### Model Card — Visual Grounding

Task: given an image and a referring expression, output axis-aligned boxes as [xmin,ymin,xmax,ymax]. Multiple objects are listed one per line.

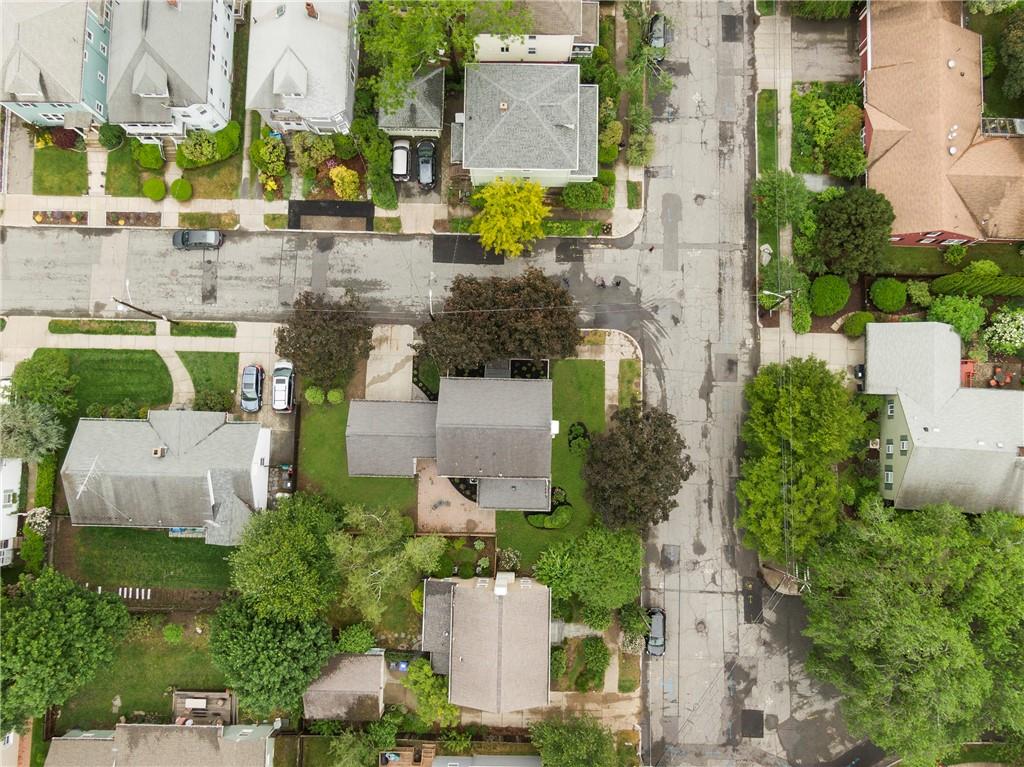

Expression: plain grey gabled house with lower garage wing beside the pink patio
[345,354,560,512]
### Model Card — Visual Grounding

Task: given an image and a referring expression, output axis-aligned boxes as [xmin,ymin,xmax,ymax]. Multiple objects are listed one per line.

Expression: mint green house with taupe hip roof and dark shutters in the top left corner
[0,0,112,150]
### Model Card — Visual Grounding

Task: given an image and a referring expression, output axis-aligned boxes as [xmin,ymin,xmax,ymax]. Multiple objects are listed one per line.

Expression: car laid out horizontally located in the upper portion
[174,226,225,251]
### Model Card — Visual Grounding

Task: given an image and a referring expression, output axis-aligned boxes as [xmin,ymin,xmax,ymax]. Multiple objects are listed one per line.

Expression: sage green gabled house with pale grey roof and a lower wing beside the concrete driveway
[862,322,1024,510]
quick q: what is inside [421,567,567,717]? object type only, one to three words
house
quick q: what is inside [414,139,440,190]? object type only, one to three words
car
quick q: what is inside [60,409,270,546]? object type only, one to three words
house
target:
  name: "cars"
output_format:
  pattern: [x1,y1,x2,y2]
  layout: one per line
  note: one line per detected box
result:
[392,140,412,183]
[270,360,296,413]
[238,363,266,413]
[646,12,670,62]
[645,606,669,658]
[414,139,440,190]
[174,226,225,251]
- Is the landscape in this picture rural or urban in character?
urban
